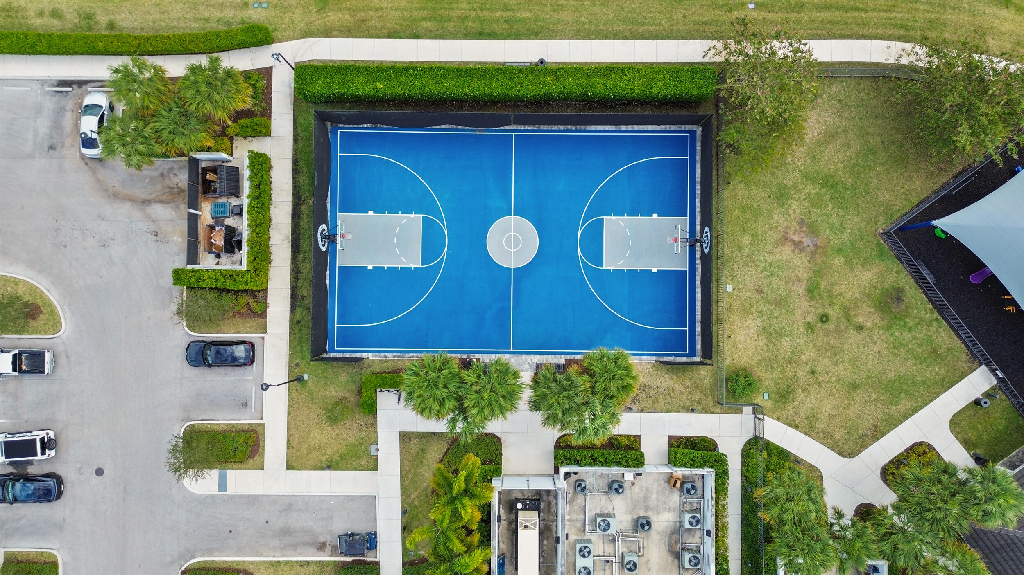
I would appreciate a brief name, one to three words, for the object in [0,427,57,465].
car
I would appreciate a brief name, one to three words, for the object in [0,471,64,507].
car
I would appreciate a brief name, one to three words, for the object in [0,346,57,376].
truck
